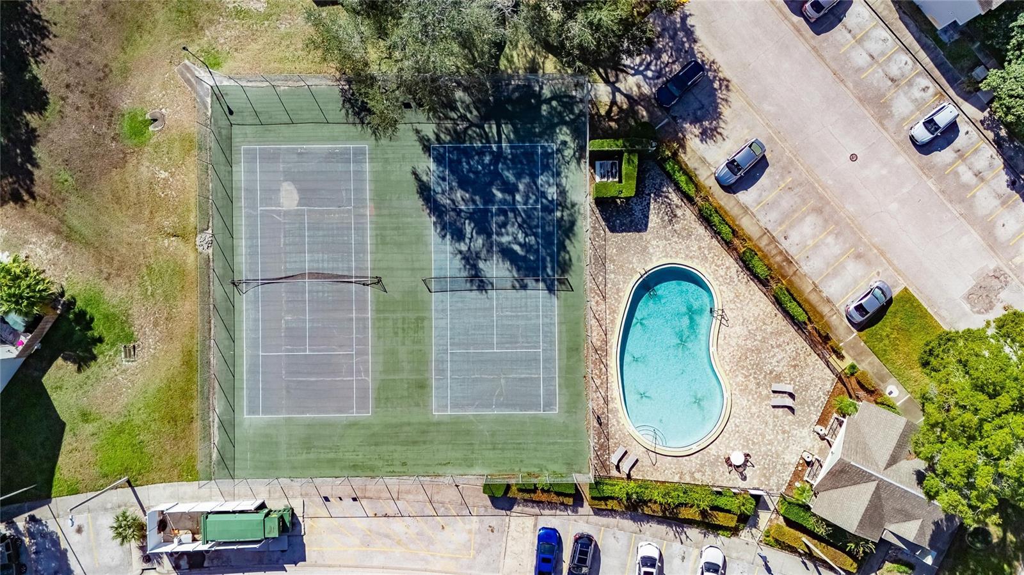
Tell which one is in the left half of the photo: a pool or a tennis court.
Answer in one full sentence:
What appears in the left half of the photo is a tennis court.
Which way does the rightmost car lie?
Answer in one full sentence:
In this picture, the rightmost car lies at an angle.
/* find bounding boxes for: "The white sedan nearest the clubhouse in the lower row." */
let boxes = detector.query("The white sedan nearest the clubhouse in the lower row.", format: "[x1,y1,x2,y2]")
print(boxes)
[700,546,727,575]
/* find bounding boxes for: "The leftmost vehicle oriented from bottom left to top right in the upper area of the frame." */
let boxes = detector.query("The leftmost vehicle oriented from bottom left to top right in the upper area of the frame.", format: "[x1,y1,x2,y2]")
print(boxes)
[656,54,711,105]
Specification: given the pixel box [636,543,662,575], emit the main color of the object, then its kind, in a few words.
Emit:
white car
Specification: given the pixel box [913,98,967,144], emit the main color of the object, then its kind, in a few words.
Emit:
white car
